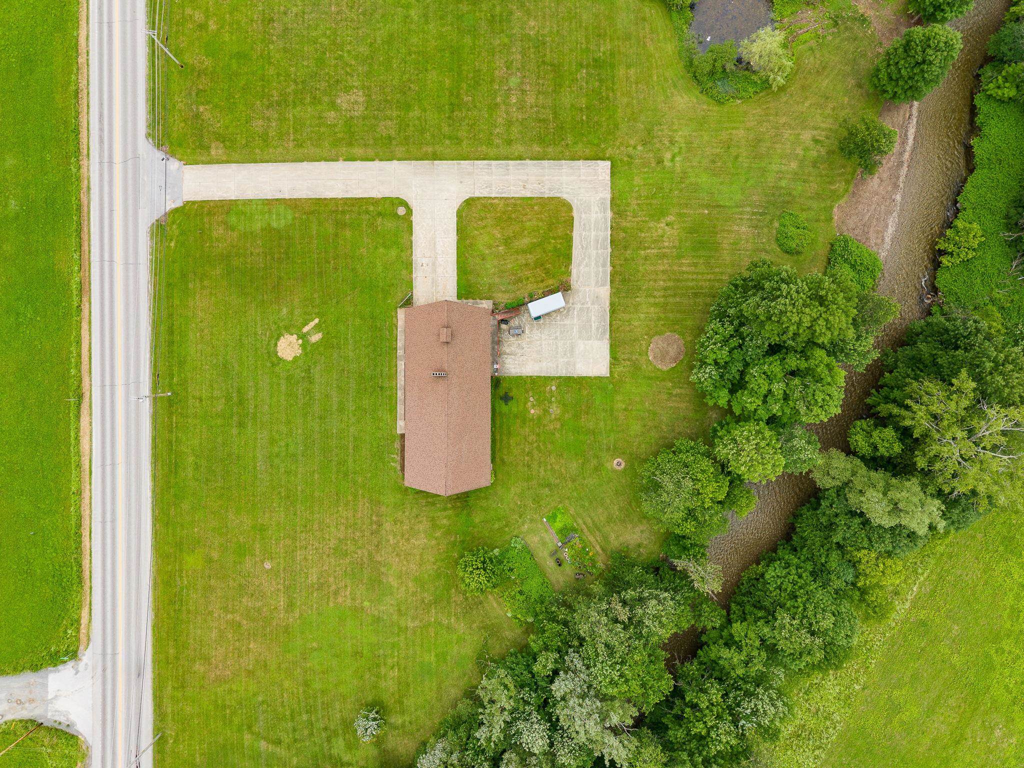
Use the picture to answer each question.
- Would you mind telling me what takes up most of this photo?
grass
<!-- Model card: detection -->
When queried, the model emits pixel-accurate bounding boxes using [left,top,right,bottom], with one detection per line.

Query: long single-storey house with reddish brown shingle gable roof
[404,300,498,496]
